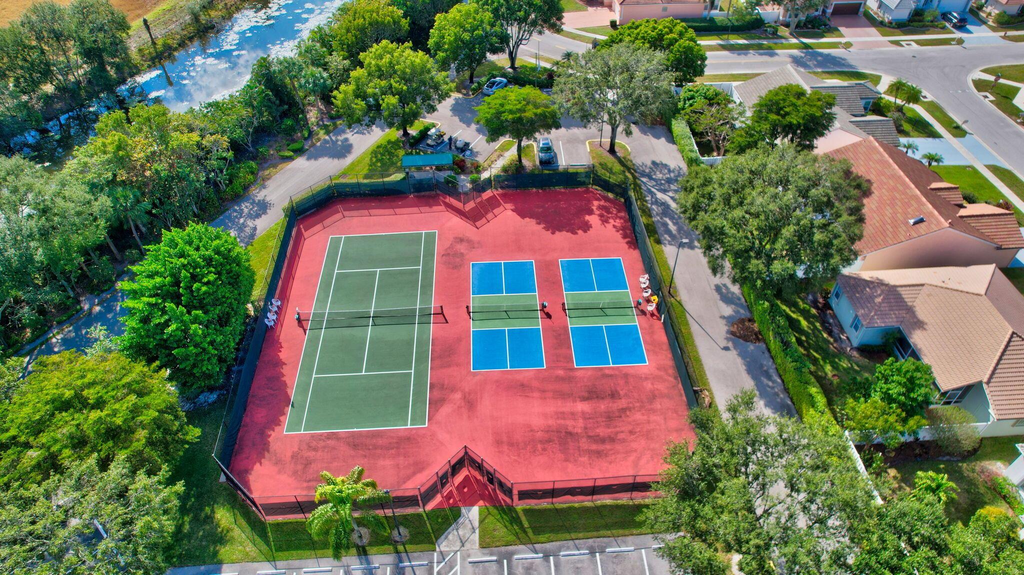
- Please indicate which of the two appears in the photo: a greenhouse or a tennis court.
tennis court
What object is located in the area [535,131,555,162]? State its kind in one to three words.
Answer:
car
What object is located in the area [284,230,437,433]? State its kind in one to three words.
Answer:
tennis court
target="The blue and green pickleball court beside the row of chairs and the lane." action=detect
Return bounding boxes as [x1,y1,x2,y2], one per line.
[559,257,648,367]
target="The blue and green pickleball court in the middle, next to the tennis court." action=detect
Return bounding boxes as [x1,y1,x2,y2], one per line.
[471,260,545,371]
